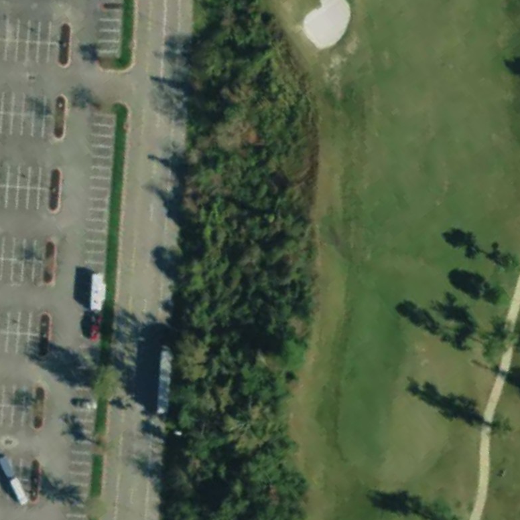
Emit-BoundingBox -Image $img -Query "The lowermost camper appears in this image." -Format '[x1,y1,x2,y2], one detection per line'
[9,478,28,505]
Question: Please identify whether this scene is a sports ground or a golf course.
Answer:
golf course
